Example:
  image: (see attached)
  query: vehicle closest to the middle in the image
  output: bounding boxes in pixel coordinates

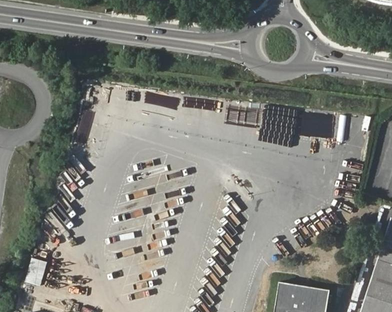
[166,168,189,180]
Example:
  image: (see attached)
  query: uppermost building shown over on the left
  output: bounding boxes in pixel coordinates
[26,259,46,286]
